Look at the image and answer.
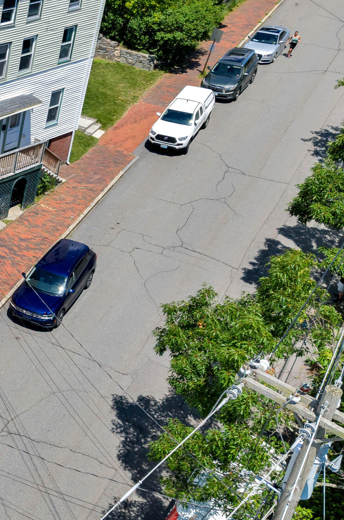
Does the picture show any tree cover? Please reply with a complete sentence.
Yes, tree cover shows up in the scene.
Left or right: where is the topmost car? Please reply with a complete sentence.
The topmost car sits on the right side.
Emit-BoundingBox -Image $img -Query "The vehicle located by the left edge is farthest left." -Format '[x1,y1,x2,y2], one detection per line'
[8,236,103,332]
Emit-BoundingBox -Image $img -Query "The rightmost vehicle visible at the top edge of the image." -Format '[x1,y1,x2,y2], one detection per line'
[244,23,293,63]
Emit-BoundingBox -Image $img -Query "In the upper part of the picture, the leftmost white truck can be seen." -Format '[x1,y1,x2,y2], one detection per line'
[147,84,220,157]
